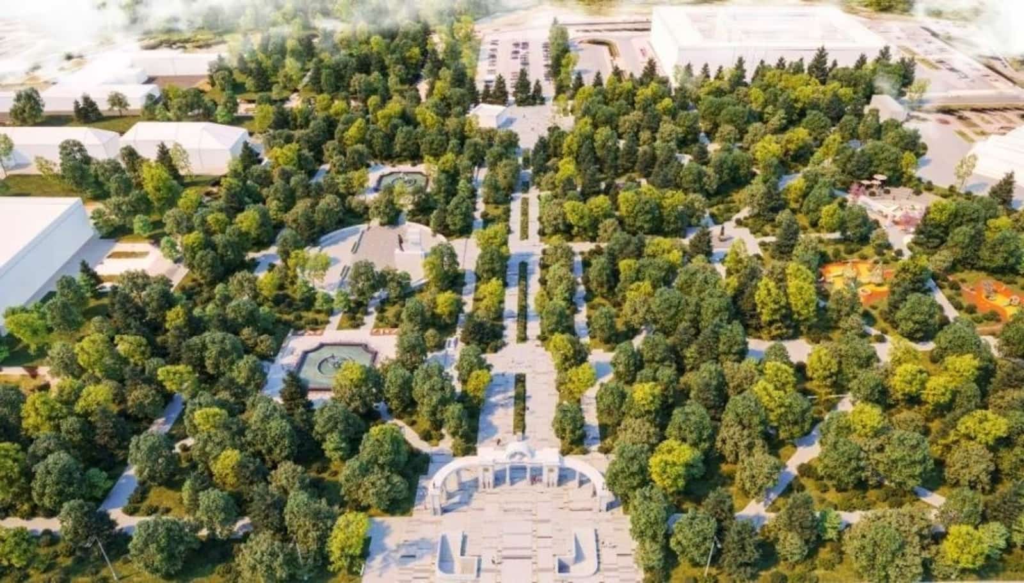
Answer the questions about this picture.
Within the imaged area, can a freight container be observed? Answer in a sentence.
No, the scene contains no freight container.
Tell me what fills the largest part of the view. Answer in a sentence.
What you mostly see from above here is trees.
